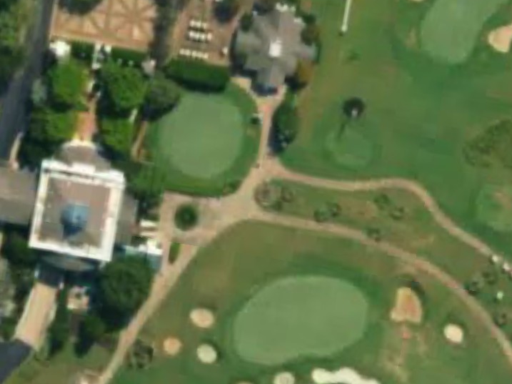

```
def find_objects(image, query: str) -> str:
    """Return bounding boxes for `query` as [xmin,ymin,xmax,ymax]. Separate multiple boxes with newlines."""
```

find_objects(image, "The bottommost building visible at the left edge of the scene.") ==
[0,132,138,272]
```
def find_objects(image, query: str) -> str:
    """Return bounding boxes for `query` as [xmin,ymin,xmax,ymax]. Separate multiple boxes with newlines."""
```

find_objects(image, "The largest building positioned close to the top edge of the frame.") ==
[233,8,319,93]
